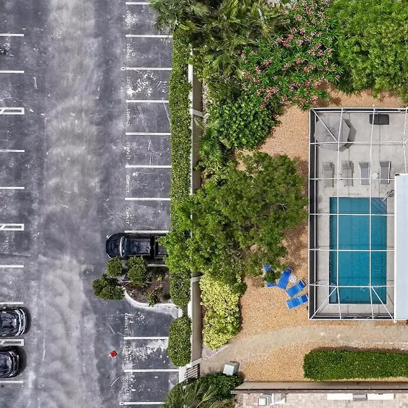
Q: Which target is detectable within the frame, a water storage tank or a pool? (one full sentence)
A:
I can see a pool in this picture.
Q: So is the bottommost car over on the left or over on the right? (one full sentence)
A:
You can find the bottommost car on the left side of the picture.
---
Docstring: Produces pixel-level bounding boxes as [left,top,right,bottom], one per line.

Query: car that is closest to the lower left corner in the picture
[0,349,23,377]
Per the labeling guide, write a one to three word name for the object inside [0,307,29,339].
car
